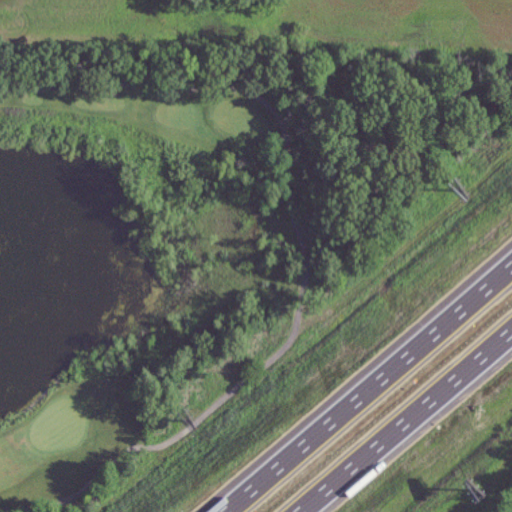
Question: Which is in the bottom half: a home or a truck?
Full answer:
Looking in the bottom half, you will find a truck.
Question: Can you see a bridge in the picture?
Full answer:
No, the photo shows no bridge.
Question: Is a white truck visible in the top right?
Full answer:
No, there is no white truck in the top right.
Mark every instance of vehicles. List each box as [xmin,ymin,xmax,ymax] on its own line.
[210,498,230,512]
[346,462,385,498]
